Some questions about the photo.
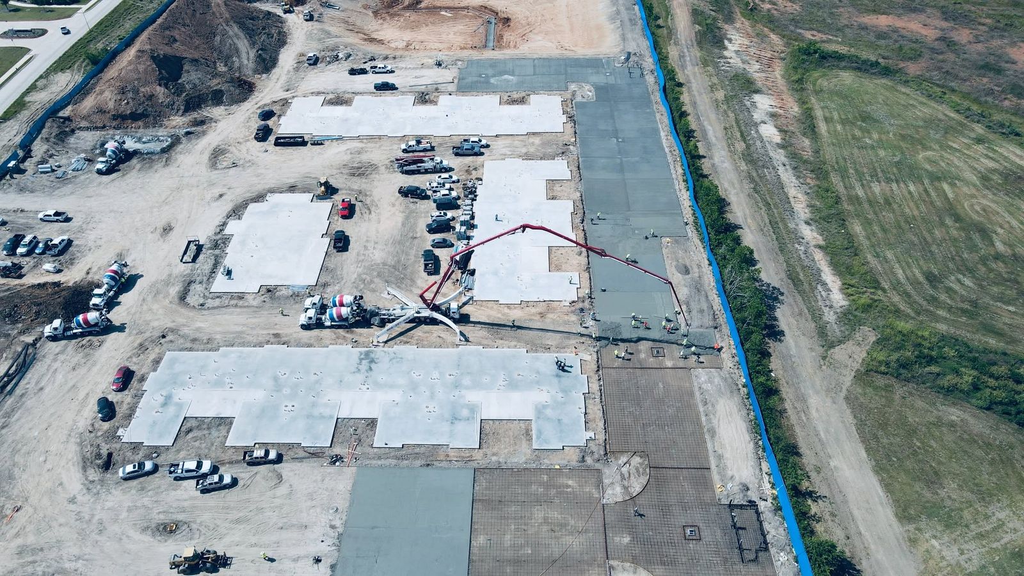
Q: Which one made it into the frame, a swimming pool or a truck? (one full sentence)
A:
It is a truck that can be seen here.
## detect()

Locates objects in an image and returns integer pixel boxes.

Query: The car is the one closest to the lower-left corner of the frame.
[118,461,157,482]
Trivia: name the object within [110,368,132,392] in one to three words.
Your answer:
car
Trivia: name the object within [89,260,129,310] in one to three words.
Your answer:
truck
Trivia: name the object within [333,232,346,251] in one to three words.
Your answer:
vehicle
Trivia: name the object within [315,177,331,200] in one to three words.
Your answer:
work vehicle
